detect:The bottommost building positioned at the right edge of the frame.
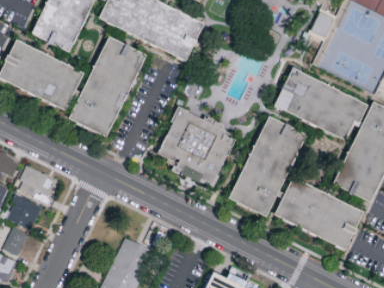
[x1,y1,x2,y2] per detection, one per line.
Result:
[275,182,365,252]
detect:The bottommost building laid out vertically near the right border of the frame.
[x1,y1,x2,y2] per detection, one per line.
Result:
[336,102,384,202]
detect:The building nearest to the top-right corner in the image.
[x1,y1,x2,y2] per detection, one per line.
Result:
[310,12,337,40]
